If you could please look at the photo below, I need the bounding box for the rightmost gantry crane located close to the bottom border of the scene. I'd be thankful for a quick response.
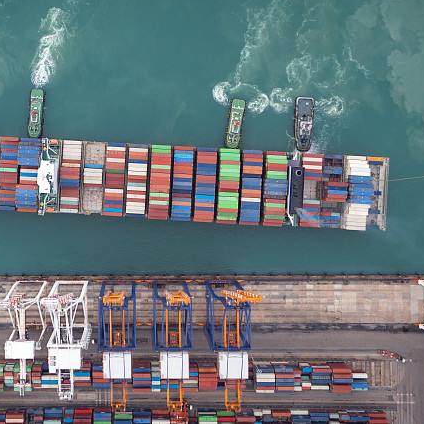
[195,280,262,415]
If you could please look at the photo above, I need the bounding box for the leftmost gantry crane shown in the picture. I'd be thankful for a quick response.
[0,280,53,400]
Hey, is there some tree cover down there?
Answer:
No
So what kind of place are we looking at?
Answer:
port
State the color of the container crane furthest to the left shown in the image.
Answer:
white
